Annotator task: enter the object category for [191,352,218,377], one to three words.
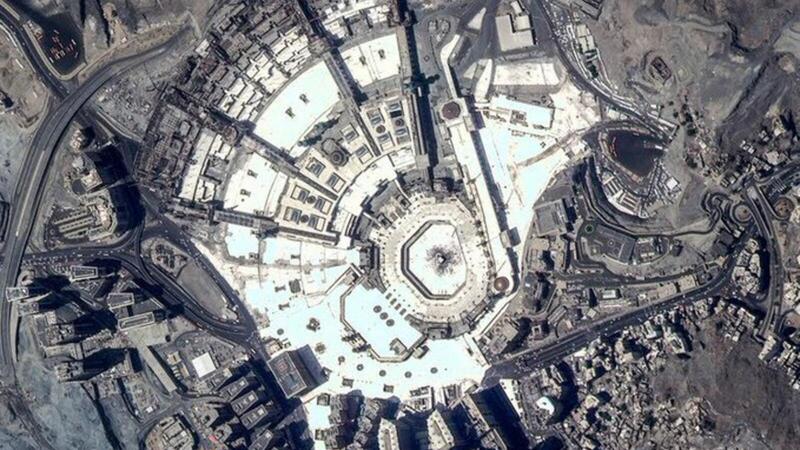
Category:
shed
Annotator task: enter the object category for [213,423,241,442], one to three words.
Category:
building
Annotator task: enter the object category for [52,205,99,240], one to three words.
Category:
building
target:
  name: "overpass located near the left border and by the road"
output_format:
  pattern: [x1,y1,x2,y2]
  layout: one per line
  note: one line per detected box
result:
[1,55,134,393]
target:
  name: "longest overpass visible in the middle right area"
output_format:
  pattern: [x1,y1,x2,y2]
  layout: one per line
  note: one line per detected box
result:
[734,173,783,346]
